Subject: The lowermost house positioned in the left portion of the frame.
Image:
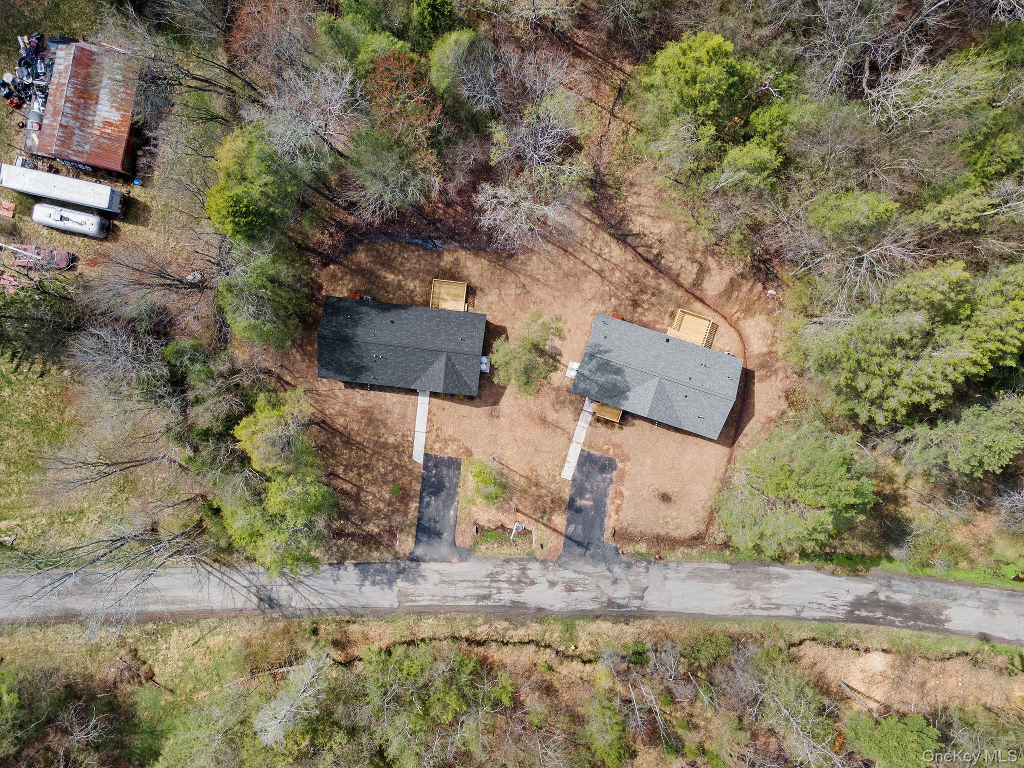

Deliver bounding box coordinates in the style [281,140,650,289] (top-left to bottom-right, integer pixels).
[317,293,487,396]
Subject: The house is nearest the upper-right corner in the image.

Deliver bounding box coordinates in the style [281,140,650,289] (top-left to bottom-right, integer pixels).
[572,313,743,440]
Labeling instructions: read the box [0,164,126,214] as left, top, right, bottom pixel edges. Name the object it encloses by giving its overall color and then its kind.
white trailer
